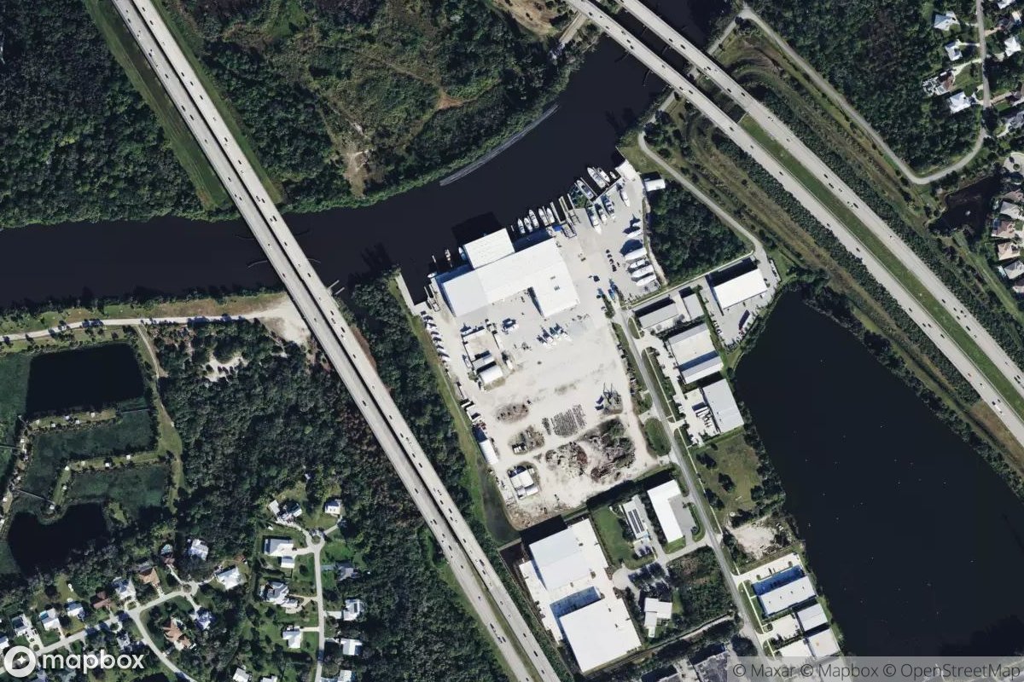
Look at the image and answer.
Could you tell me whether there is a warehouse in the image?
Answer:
Yes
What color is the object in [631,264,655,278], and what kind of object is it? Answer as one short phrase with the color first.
white boat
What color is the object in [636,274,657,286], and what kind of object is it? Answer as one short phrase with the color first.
white boat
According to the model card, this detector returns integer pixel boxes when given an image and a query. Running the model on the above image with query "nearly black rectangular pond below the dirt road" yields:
[27,342,144,415]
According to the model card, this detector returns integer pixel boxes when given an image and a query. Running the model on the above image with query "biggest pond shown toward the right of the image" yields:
[929,167,1014,245]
